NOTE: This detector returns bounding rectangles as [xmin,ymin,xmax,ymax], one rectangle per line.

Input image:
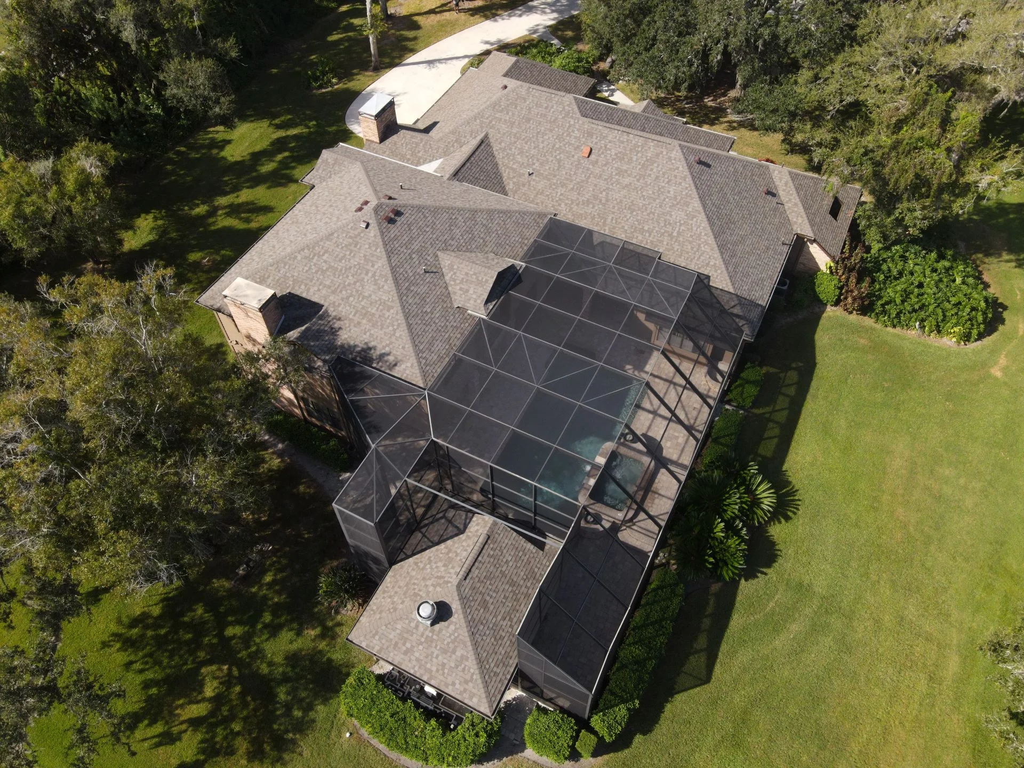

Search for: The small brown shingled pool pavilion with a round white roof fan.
[344,505,569,724]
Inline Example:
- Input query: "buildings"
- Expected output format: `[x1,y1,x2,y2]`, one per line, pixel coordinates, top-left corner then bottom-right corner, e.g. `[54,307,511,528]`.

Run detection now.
[195,53,863,455]
[344,505,569,724]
